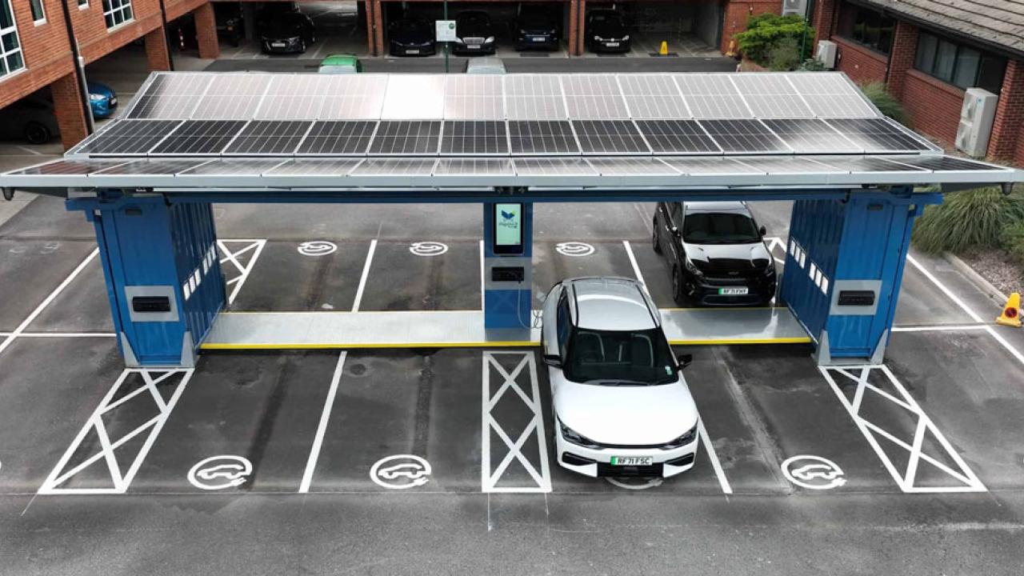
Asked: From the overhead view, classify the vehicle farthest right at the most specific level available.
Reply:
car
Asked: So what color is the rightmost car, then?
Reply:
black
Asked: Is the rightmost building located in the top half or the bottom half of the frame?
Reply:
top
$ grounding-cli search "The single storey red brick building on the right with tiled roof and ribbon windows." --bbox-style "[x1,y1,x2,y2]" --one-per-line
[830,0,1024,170]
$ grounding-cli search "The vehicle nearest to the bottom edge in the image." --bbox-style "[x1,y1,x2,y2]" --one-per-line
[537,277,700,480]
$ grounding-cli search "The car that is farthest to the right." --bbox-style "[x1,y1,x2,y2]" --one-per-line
[659,200,784,305]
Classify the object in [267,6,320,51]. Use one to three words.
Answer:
car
